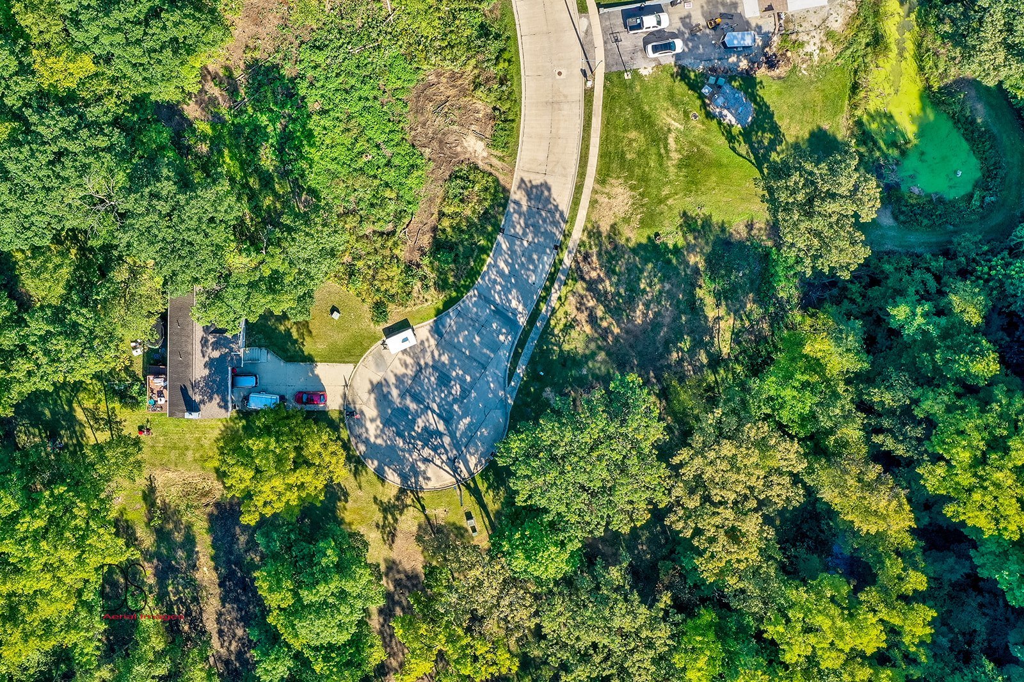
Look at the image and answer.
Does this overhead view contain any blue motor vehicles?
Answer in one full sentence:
Yes, looking at the shot, I can spot a blue motor vehicle.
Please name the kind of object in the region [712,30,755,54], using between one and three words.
trailer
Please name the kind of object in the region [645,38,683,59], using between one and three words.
car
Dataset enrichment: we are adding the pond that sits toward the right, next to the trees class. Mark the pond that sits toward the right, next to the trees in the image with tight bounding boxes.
[867,0,980,195]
